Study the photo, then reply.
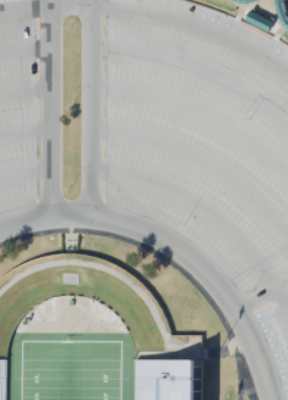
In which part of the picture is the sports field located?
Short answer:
bottom left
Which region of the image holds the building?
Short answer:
top right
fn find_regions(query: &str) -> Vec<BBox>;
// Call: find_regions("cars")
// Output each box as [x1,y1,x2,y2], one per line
[32,64,36,74]
[188,5,194,13]
[256,289,266,296]
[24,28,28,39]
